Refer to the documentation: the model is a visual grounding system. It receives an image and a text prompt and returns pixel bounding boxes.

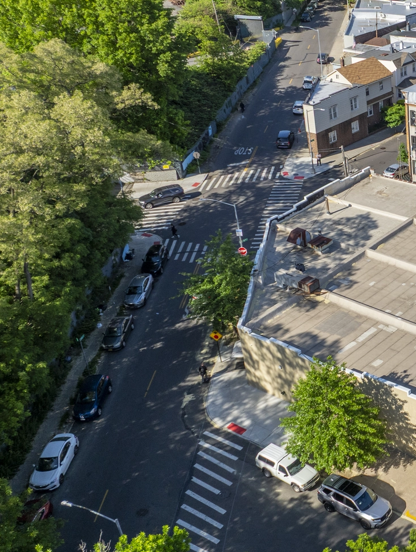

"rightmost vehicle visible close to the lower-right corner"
[307,470,390,531]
